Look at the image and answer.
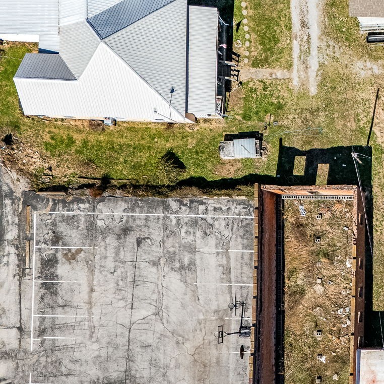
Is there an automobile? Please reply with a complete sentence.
No, the frame has no automobile in it.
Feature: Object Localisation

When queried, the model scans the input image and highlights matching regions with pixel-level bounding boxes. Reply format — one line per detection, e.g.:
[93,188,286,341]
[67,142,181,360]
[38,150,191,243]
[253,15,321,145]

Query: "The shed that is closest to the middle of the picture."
[220,139,263,159]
